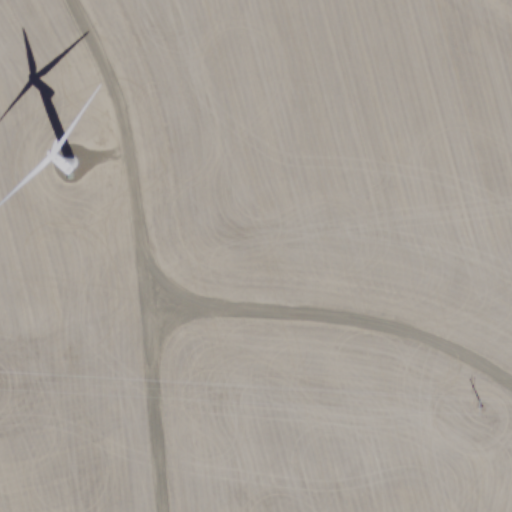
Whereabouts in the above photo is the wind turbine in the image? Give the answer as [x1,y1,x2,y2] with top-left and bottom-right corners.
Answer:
[0,83,104,206]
